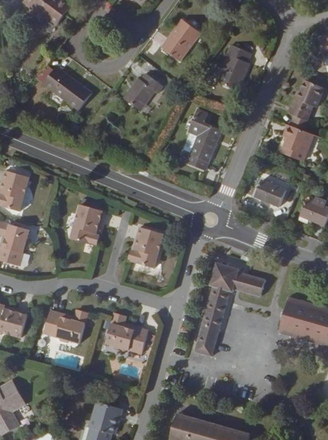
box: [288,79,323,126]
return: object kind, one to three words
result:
house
